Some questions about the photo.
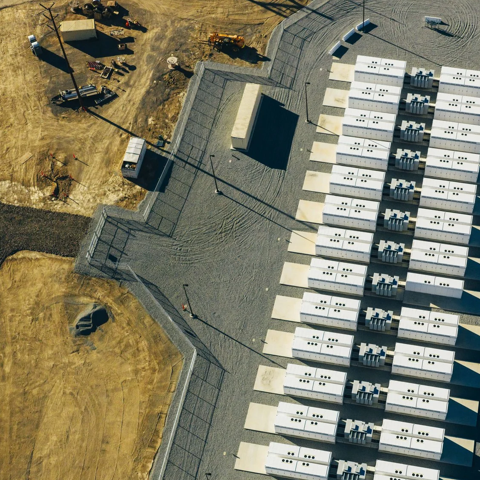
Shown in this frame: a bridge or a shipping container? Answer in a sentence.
Of the two, only a shipping container appears.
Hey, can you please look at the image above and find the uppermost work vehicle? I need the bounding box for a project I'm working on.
[201,35,242,51]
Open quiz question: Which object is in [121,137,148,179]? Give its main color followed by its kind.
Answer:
white shipping container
